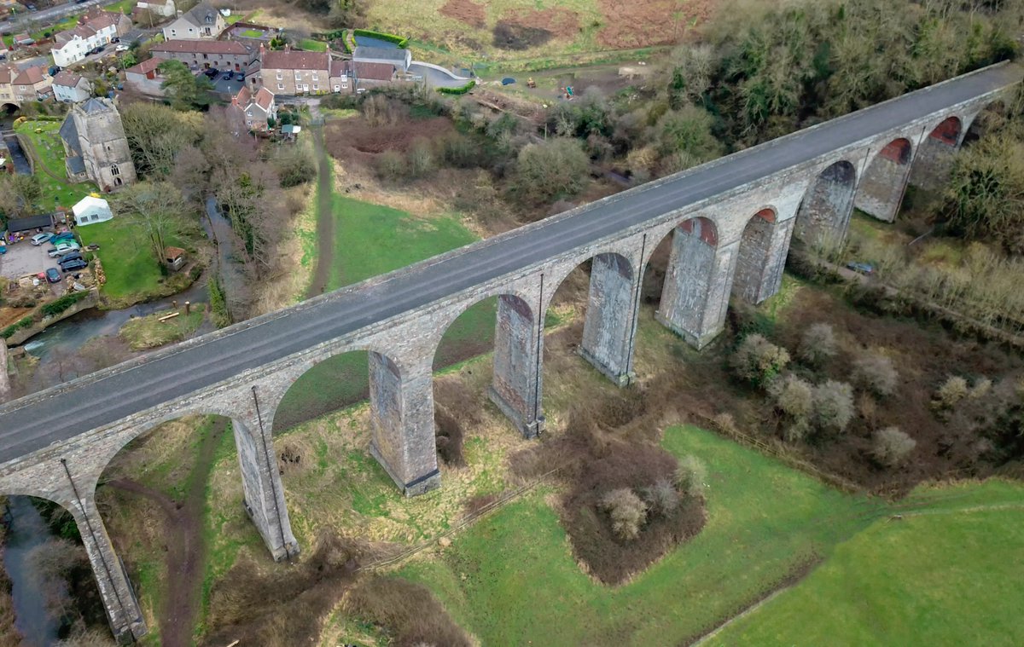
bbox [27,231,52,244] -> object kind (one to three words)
vehicle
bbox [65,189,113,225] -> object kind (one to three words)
tent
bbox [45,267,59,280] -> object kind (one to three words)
vehicle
